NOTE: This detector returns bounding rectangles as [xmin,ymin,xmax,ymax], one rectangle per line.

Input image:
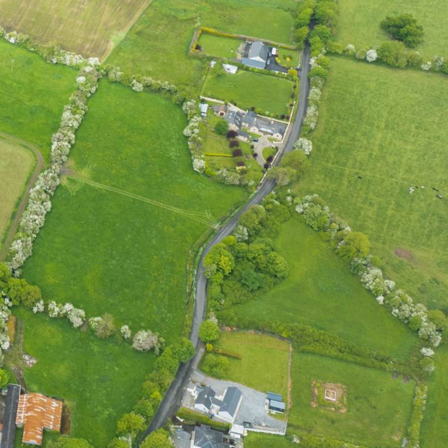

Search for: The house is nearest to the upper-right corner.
[241,42,269,74]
